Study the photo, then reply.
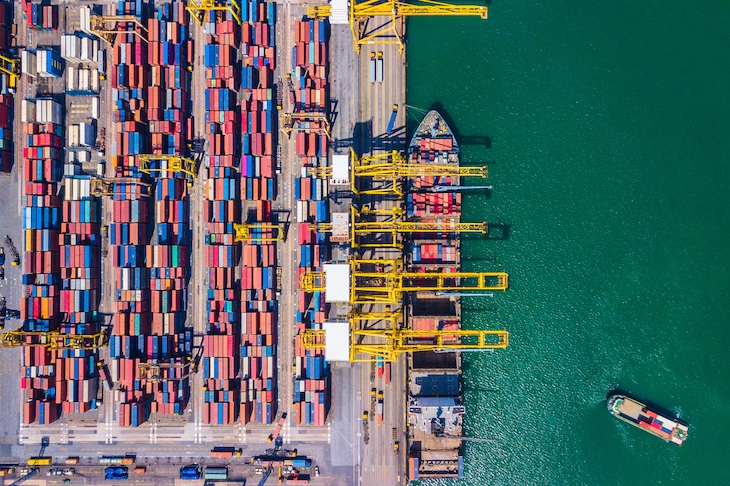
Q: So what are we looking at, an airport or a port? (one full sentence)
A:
This looks like a port.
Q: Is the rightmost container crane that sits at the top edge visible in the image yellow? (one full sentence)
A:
Yes, yellow is the color of the rightmost container crane that sits at the top edge.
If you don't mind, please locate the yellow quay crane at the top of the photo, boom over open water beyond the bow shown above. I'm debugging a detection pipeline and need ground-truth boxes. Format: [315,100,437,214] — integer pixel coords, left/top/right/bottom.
[305,0,488,59]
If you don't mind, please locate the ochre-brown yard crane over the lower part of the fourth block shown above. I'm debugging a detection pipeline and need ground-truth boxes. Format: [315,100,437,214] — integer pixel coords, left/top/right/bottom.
[138,354,196,381]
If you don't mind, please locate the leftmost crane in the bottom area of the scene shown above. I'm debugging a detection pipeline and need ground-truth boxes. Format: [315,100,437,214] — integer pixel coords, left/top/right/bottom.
[0,326,61,348]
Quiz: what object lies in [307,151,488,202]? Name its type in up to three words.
container crane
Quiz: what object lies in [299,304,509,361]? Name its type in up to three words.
container crane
